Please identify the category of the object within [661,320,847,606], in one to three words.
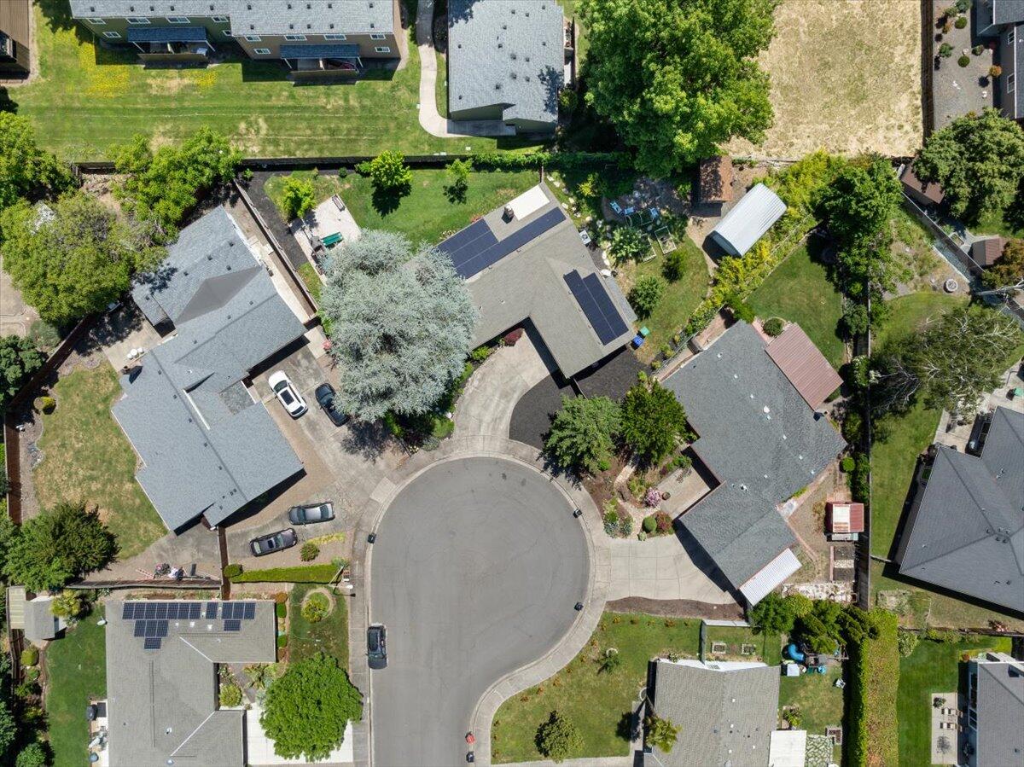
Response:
house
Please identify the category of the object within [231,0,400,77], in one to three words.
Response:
building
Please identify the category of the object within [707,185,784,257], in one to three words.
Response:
shed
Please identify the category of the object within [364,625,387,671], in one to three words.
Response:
car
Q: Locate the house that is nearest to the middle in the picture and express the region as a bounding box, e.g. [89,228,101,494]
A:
[439,180,638,379]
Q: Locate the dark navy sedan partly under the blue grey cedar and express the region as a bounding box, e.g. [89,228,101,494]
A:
[313,381,349,429]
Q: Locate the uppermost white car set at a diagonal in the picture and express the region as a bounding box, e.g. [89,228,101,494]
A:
[266,372,304,419]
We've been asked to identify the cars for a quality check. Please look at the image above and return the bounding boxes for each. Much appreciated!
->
[364,625,387,671]
[286,502,335,527]
[313,381,349,429]
[246,530,298,558]
[266,372,304,419]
